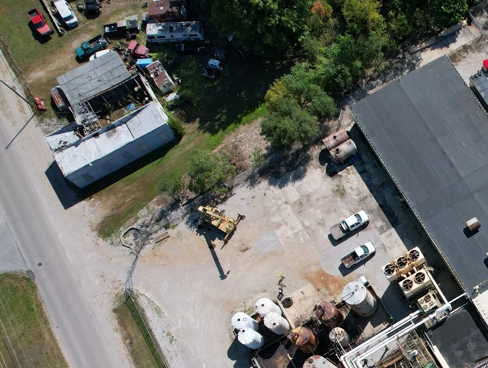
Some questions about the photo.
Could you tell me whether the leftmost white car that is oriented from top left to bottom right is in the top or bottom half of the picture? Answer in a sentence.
The leftmost white car that is oriented from top left to bottom right sits in the top half of the picture.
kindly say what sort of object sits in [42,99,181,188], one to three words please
building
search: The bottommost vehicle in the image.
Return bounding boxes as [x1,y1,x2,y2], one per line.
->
[341,245,378,271]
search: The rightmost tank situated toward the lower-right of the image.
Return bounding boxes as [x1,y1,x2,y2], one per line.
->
[342,281,378,315]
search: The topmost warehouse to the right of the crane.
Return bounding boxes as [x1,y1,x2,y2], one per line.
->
[349,54,488,303]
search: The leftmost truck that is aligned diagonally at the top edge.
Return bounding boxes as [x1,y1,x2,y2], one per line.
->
[25,7,56,38]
